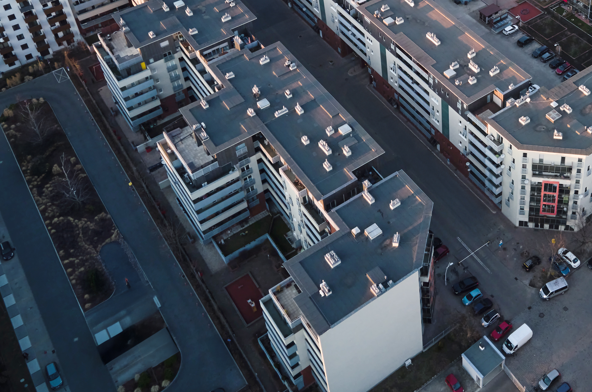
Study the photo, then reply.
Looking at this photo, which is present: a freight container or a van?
van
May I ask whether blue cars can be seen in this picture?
Yes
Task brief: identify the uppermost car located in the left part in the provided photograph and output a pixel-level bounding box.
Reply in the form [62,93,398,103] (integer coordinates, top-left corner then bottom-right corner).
[0,240,15,262]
